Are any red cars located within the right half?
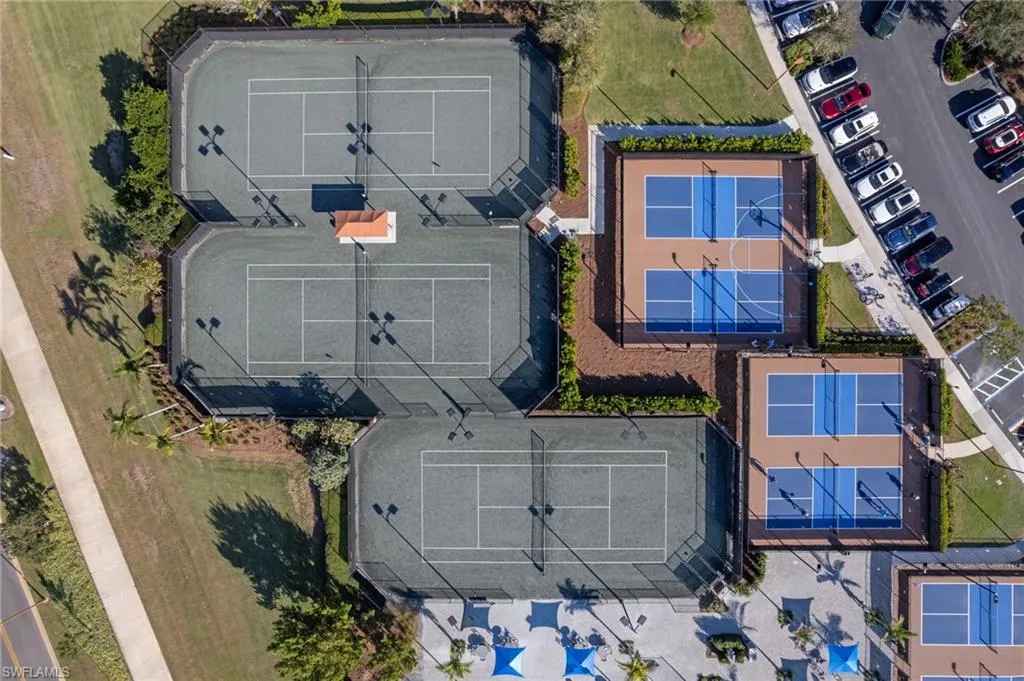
Yes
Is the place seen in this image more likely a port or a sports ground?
sports ground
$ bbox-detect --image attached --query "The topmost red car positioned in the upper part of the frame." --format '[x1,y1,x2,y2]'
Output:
[820,83,872,119]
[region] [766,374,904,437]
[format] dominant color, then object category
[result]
blue sports court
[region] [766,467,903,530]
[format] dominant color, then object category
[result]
blue sports court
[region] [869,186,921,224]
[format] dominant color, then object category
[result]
white car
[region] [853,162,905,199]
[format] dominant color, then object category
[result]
white car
